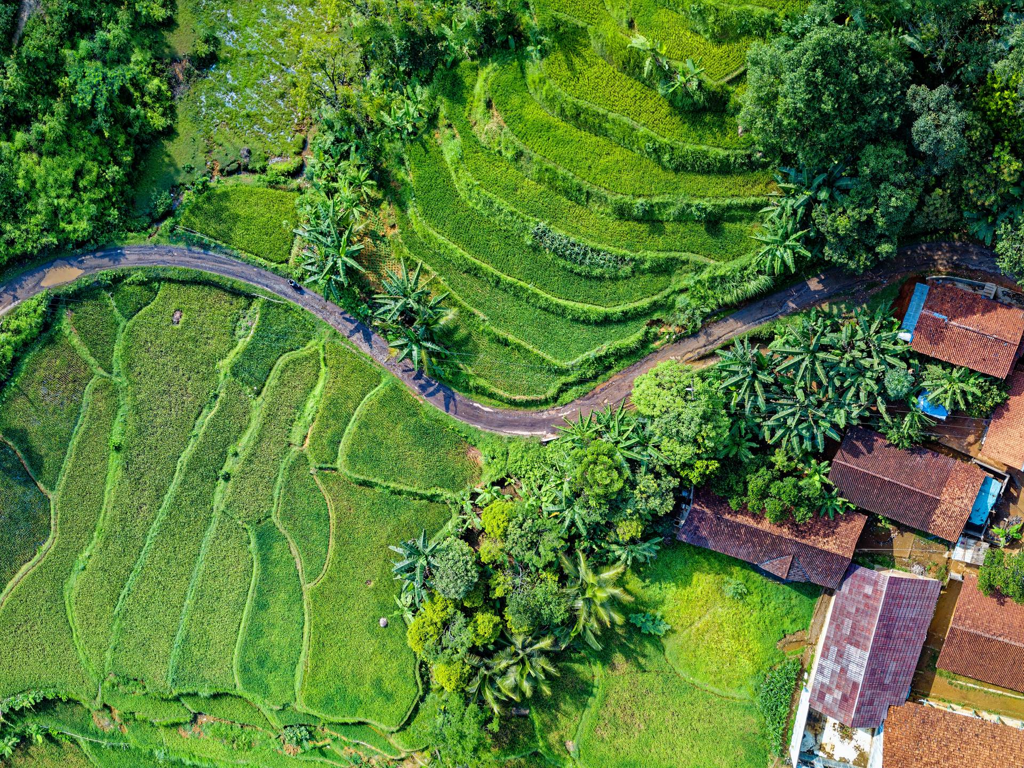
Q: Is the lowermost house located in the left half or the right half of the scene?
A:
right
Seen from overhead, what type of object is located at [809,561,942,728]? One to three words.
house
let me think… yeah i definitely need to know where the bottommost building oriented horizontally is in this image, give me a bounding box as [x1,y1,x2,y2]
[880,699,1024,768]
